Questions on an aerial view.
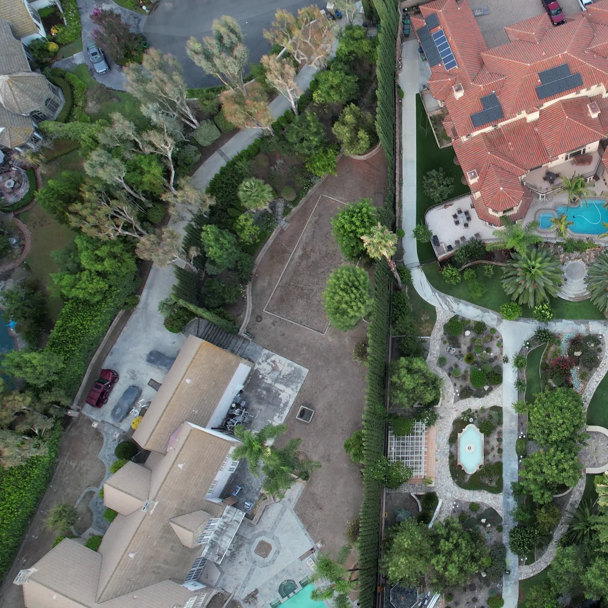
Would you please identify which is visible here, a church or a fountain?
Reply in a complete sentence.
The one in the frame is a fountain.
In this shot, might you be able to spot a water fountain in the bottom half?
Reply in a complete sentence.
Yes, I can see a water fountain in the bottom half.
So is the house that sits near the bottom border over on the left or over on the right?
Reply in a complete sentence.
You can find the house that sits near the bottom border on the left side of the picture.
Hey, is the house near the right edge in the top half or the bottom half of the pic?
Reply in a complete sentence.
The house near the right edge sits in the top half of the picture.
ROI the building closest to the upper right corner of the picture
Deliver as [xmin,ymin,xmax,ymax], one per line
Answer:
[411,0,608,227]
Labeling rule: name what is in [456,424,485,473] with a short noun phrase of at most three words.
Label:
fountain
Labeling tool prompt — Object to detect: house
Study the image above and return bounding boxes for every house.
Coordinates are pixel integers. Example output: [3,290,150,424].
[0,0,66,161]
[15,421,238,608]
[411,0,608,227]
